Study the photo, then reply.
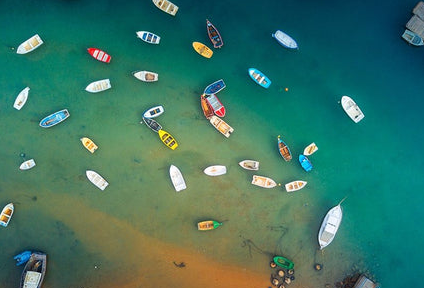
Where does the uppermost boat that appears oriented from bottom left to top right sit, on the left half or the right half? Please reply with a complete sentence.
The uppermost boat that appears oriented from bottom left to top right sits on the left side.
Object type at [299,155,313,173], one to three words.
boat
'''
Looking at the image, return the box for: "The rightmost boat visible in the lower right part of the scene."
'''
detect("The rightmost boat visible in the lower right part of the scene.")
[319,194,345,250]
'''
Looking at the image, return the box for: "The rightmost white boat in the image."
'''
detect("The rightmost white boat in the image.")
[342,96,366,123]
